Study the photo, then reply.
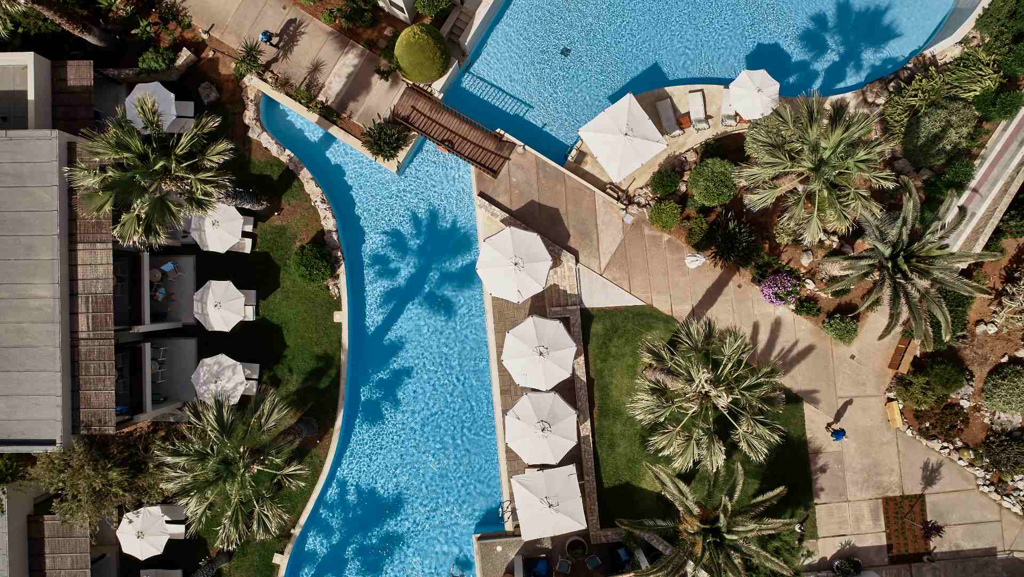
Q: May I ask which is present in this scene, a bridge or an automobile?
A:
bridge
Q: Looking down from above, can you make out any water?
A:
Yes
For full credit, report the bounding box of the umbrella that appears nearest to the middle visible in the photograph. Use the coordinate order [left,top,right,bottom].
[474,225,553,303]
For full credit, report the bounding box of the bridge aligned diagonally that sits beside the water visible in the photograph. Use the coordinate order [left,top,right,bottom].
[385,77,528,190]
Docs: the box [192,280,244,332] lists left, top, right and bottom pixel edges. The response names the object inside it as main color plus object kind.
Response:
white umbrella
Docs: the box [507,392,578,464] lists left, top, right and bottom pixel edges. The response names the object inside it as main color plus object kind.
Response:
white umbrella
